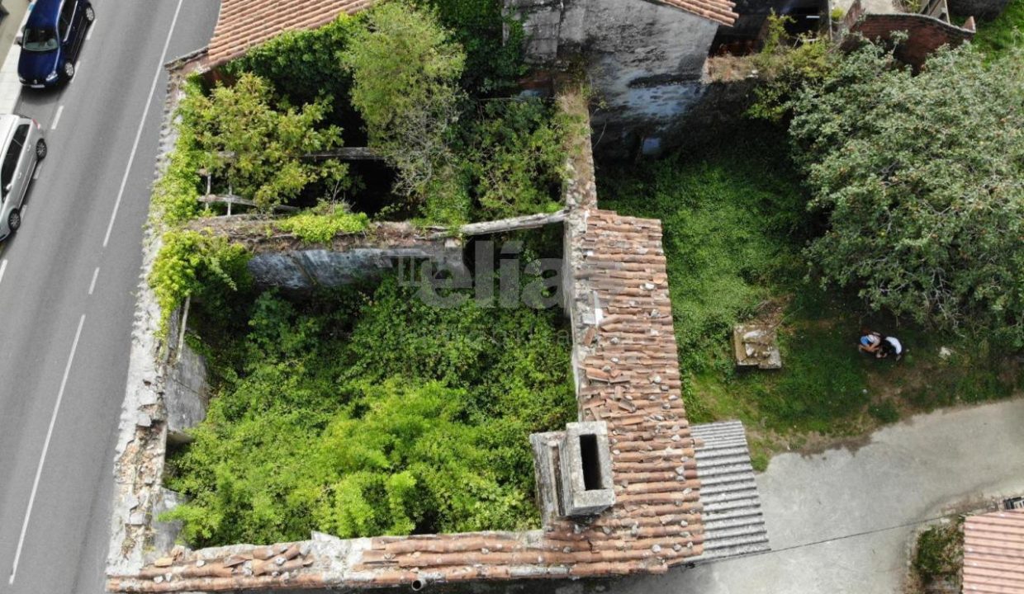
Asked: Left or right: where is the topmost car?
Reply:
left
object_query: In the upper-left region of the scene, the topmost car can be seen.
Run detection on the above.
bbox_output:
[9,0,93,89]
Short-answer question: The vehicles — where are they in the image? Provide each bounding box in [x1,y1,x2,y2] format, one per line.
[0,109,48,243]
[9,0,93,89]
